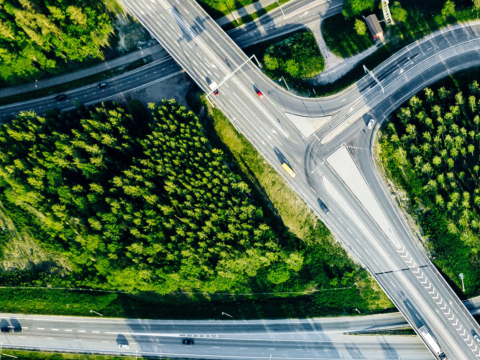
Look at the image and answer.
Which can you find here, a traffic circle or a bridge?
bridge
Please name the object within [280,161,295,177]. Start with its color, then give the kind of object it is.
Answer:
yellow vehicle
